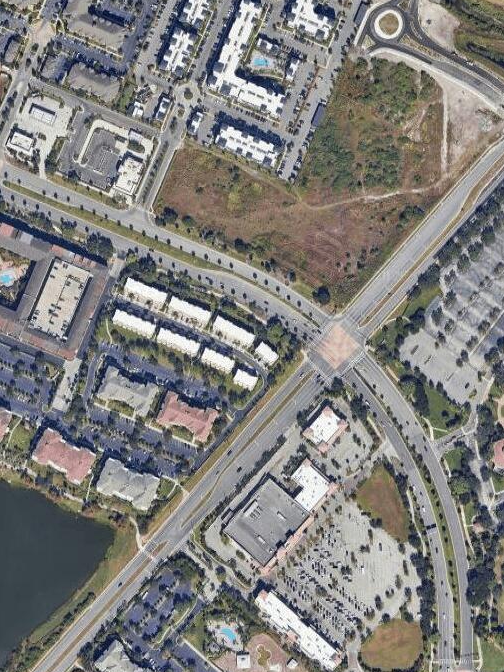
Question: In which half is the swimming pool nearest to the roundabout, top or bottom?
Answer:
top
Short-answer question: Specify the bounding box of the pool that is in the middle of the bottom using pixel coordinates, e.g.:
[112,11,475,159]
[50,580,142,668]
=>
[208,622,245,651]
